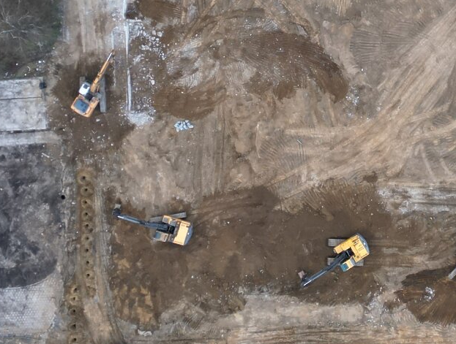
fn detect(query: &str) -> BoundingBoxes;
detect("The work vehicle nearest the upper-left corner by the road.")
[66,42,124,120]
